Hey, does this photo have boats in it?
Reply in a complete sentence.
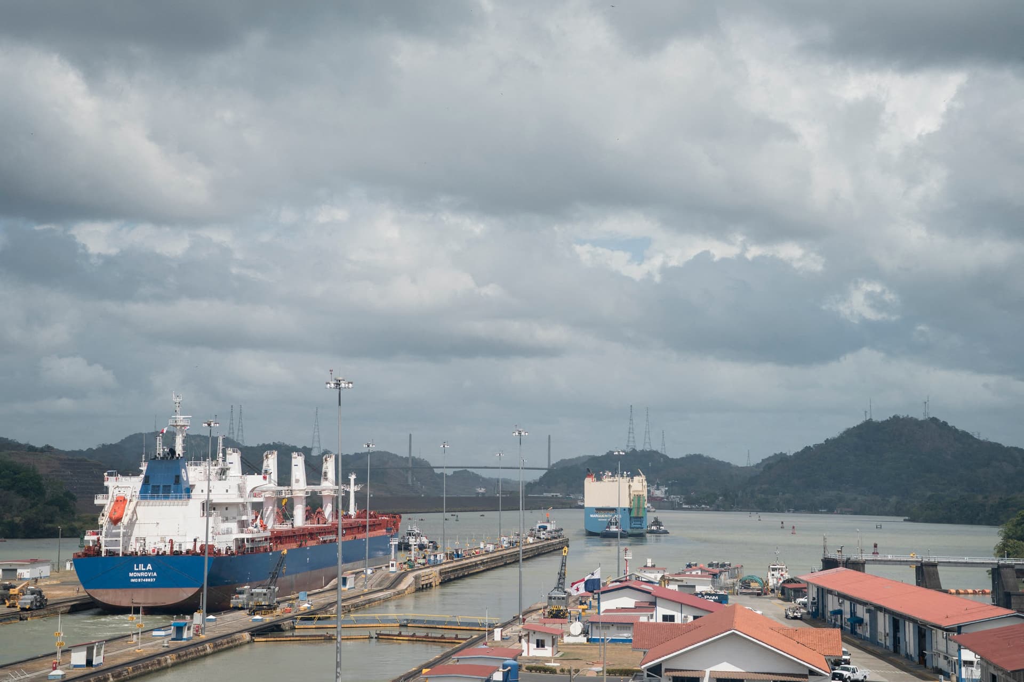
Yes, a boat is visible in the scene.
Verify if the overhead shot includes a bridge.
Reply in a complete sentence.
Yes, the picture does show a bridge.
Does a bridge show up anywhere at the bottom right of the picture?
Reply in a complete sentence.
Yes, a bridge shows up at the bottom right of the picture.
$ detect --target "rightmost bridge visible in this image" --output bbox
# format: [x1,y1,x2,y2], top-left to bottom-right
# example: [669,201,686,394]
[820,529,1024,613]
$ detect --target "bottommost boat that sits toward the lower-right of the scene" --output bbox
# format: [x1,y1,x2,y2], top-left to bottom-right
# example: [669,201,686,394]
[770,549,791,589]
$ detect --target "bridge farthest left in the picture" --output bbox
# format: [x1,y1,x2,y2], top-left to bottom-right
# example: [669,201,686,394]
[336,438,555,495]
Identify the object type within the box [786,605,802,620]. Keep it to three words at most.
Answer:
vehicle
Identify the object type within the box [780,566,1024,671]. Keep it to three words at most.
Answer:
building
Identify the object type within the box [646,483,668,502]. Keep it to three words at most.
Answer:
ship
